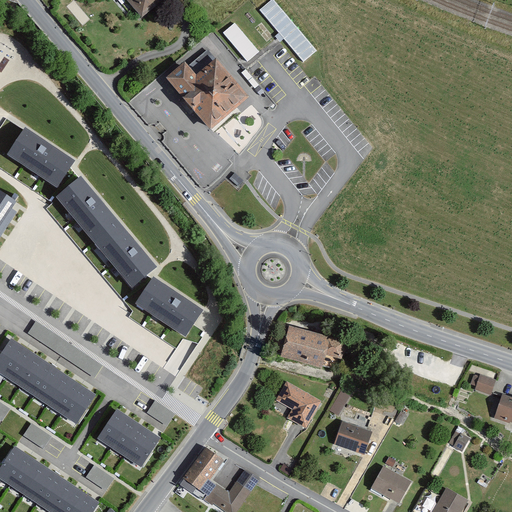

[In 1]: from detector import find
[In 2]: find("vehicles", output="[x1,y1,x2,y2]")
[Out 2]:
[284,166,296,172]
[284,128,294,139]
[136,400,146,409]
[284,58,295,66]
[279,160,290,165]
[274,138,285,150]
[298,76,309,86]
[506,384,512,394]
[288,62,298,72]
[74,464,86,474]
[22,280,32,290]
[134,356,148,372]
[332,487,338,498]
[254,67,264,76]
[214,432,224,442]
[154,158,164,167]
[418,352,424,364]
[258,72,269,82]
[106,336,116,348]
[266,82,276,92]
[276,48,286,58]
[320,95,331,105]
[304,126,314,136]
[297,184,308,188]
[8,271,22,286]
[368,440,377,454]
[119,346,127,360]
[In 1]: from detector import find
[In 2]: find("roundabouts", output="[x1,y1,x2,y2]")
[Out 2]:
[237,233,310,306]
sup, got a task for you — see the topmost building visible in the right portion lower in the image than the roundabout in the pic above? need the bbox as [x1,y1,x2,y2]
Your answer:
[280,325,342,368]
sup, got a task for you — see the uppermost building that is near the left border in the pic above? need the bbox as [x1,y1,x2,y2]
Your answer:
[6,127,74,187]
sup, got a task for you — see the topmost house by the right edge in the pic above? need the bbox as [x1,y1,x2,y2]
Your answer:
[471,374,496,395]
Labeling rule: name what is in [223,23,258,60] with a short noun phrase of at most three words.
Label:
building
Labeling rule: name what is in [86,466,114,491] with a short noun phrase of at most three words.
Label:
building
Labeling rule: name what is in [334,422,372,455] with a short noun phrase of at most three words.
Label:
house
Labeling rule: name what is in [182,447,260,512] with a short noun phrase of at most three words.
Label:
house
